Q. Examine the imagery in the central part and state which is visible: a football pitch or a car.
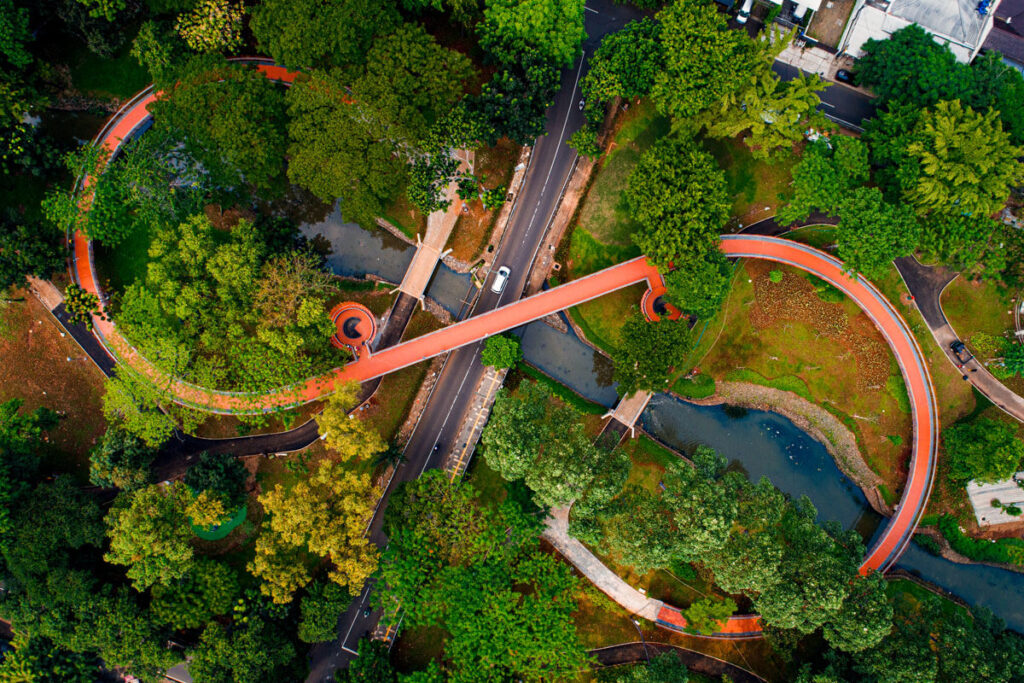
car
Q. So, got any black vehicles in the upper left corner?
No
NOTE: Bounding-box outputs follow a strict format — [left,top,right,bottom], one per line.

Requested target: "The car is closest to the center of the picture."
[492,266,510,295]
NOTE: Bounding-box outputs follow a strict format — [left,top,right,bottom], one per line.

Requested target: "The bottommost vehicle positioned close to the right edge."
[949,339,974,366]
